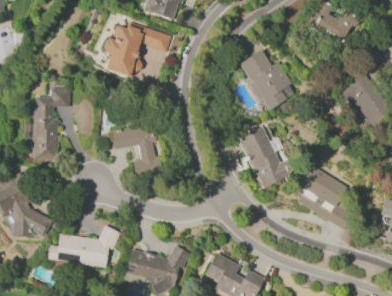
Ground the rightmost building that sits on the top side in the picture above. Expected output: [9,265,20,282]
[342,74,390,126]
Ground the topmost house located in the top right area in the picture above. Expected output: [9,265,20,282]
[314,1,358,38]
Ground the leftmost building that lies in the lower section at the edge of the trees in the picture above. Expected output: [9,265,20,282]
[0,176,51,240]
